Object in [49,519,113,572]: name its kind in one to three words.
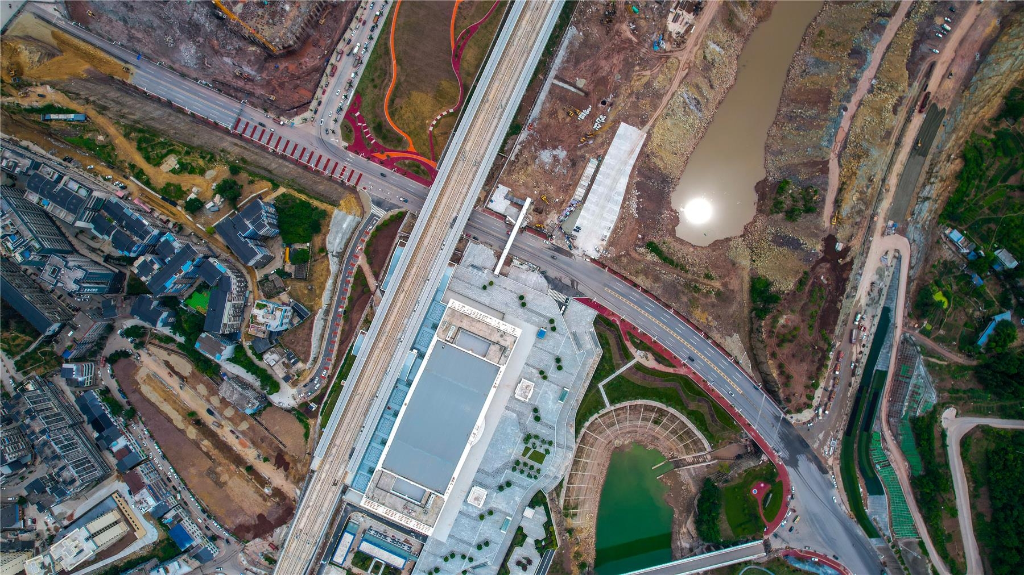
building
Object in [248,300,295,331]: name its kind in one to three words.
house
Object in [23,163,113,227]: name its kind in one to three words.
building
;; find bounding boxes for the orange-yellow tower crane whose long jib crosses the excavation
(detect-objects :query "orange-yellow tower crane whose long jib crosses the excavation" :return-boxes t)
[202,0,285,60]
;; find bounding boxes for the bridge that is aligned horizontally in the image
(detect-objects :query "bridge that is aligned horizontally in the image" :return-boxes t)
[620,541,766,575]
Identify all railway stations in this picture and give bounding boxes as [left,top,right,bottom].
[346,240,522,535]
